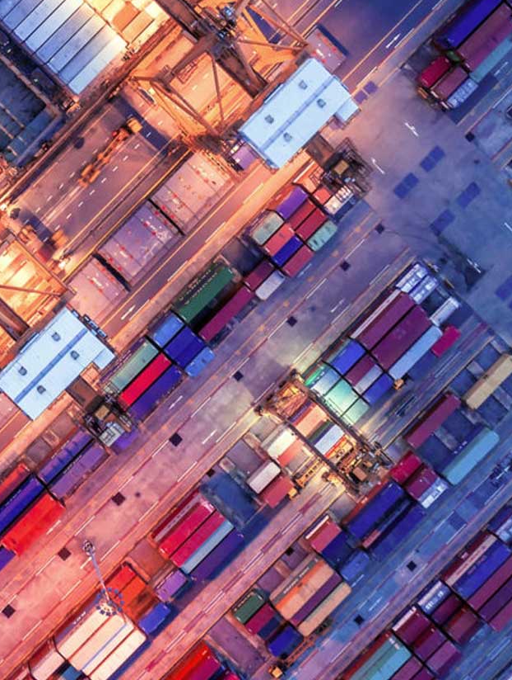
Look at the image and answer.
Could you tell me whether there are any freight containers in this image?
Yes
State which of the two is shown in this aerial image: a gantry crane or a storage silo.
gantry crane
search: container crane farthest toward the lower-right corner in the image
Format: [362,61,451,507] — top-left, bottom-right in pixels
[254,370,397,507]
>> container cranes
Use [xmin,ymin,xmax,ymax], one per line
[0,194,139,450]
[254,370,397,507]
[107,0,379,204]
